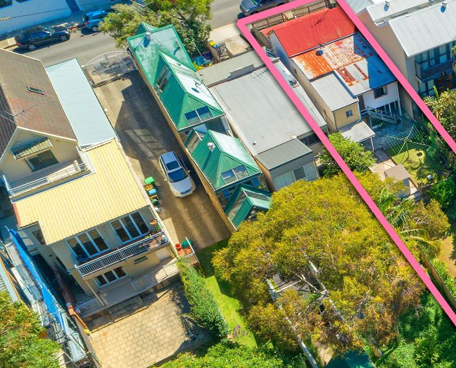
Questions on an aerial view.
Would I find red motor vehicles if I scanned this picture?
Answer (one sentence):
No, no red motor vehicle can be seen from above.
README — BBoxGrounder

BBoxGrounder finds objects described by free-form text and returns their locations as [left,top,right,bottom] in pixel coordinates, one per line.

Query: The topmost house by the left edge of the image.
[0,51,176,290]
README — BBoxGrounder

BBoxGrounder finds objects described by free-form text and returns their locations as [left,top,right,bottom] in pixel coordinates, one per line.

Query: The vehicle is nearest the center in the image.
[153,148,195,196]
